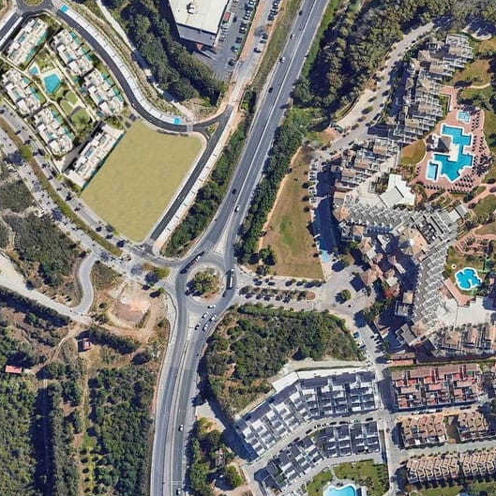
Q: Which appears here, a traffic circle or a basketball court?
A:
traffic circle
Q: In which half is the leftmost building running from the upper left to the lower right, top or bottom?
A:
top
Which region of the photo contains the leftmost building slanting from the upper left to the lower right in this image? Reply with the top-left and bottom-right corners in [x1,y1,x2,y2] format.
[1,70,41,113]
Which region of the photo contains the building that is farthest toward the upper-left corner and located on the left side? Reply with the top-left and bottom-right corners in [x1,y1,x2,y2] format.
[7,16,48,65]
